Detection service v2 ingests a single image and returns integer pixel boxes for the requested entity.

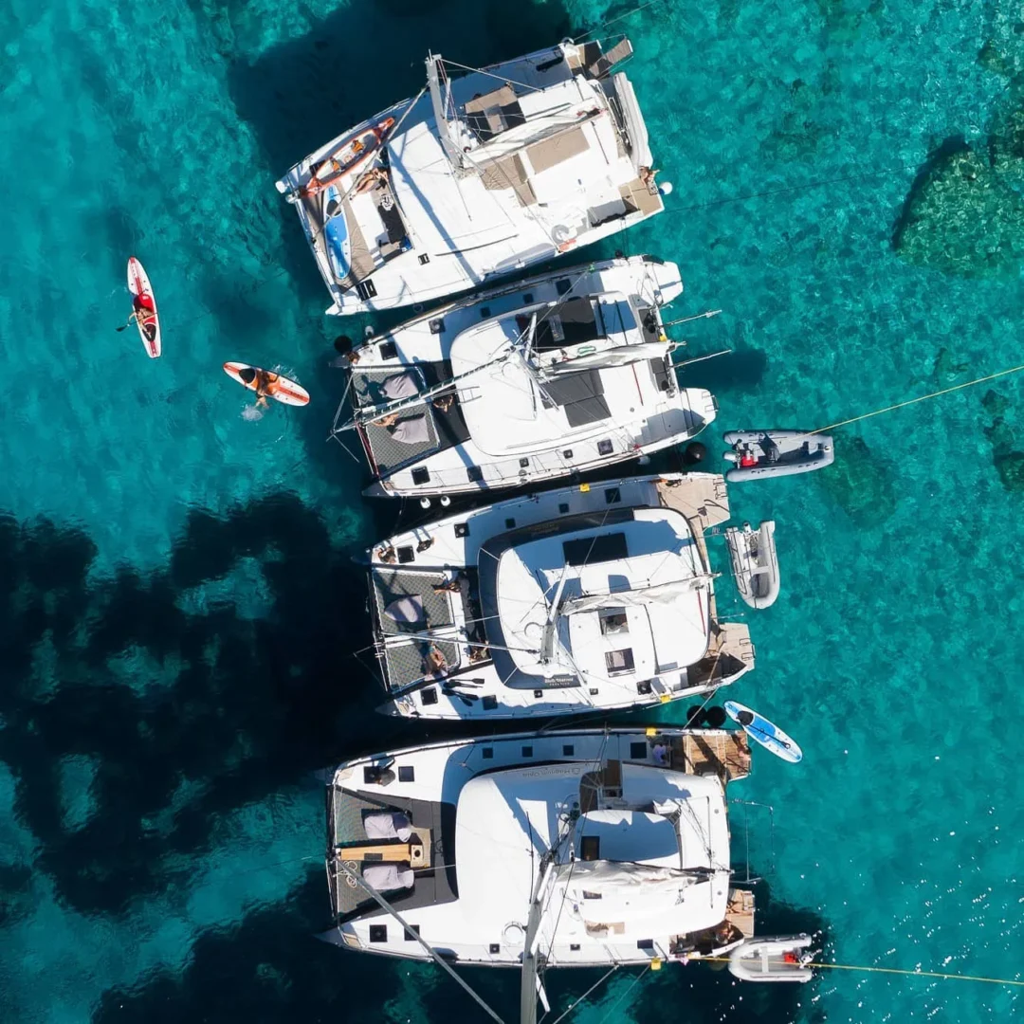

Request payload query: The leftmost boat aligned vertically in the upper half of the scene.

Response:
[612,69,655,183]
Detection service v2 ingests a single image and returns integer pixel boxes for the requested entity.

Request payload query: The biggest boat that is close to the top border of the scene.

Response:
[272,34,664,317]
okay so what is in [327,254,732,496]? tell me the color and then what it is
white boat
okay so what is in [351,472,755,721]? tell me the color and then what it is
white boat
